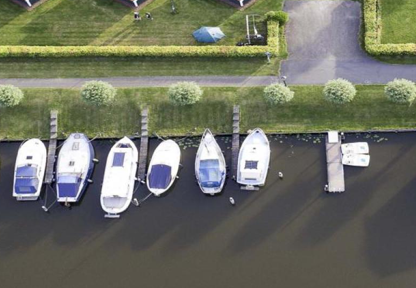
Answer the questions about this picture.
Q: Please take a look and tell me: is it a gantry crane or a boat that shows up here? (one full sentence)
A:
The one in the frame is a boat.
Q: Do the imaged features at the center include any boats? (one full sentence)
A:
Yes, at the center there is a boat.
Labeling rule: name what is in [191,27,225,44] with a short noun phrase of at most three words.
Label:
tent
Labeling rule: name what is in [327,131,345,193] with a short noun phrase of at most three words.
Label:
pier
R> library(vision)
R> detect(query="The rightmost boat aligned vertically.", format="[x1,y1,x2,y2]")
[236,127,270,193]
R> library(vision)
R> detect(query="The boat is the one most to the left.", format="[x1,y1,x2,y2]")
[12,138,46,203]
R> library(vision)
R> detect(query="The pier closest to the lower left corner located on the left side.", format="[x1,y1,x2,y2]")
[42,110,58,183]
